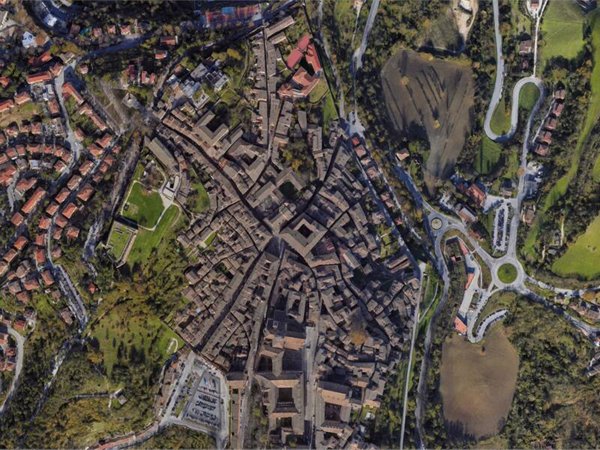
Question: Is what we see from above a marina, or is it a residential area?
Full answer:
It's a residential area.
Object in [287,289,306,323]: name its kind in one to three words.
building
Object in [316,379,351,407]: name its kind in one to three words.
building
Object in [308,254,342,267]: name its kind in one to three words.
house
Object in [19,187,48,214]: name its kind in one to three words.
house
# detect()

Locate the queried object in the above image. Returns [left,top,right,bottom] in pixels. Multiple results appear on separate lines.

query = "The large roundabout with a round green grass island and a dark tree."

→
[492,257,524,289]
